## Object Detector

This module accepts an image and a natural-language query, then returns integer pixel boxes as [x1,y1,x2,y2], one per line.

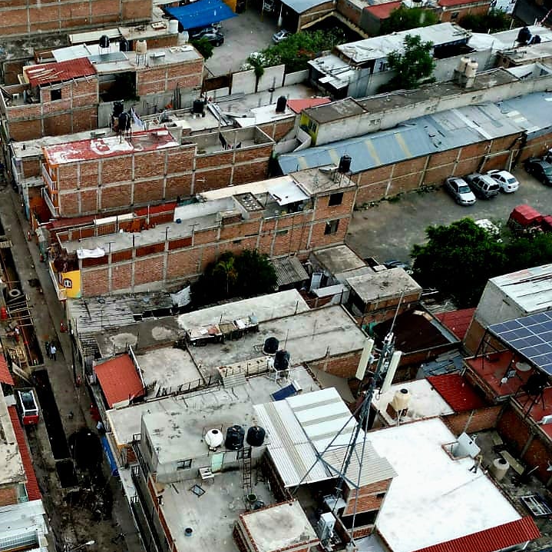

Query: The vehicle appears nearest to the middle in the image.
[374,254,421,280]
